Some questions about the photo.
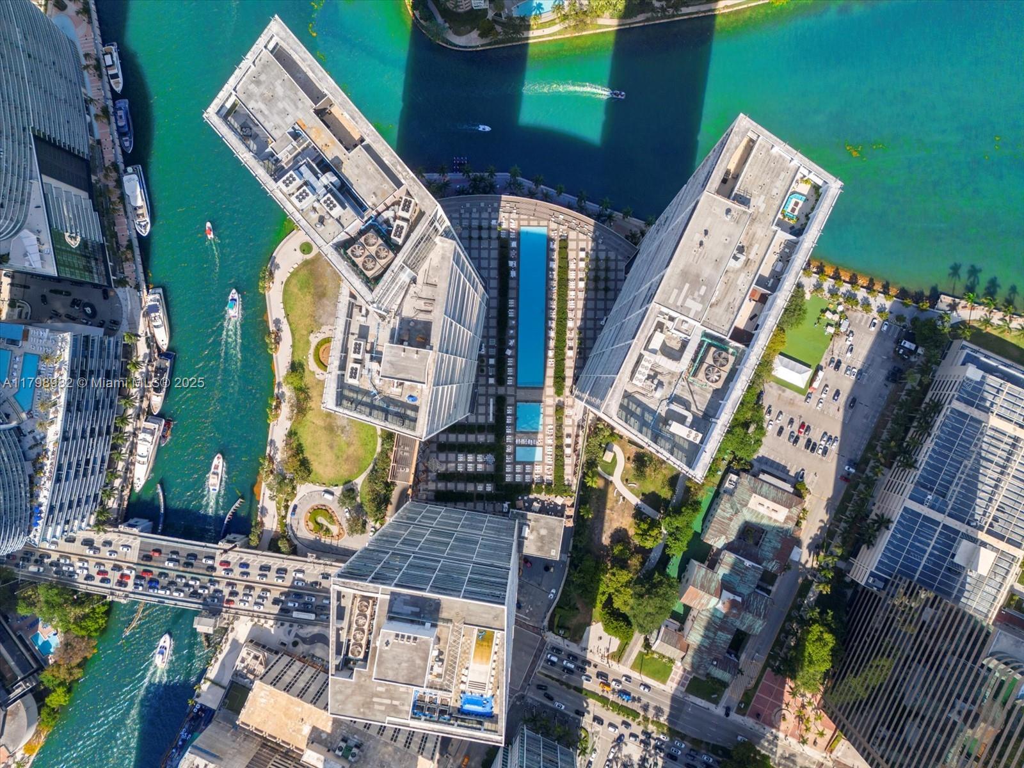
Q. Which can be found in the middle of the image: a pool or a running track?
pool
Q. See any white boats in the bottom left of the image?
Yes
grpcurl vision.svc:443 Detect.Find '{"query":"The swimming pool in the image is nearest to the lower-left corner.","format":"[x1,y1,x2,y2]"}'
[31,630,60,656]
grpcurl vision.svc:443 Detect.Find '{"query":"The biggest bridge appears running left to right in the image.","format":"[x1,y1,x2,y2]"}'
[3,529,339,627]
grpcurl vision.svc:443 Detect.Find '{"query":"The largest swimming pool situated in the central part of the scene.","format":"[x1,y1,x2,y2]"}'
[515,226,549,388]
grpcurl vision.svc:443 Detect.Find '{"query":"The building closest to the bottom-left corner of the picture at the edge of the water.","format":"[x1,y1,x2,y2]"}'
[0,686,47,756]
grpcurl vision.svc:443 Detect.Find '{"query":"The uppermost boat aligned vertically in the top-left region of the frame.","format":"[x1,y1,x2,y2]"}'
[105,42,125,94]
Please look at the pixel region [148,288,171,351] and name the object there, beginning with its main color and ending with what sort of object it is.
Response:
white boat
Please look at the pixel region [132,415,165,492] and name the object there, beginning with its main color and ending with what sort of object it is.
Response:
white boat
